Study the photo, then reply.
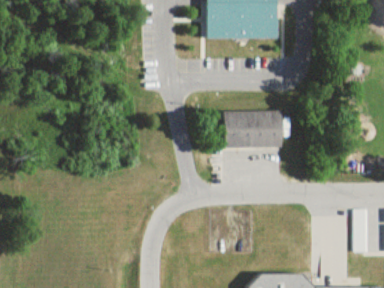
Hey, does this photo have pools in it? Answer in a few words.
No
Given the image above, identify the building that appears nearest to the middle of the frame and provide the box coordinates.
[224,111,282,148]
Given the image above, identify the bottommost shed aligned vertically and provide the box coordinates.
[352,209,368,252]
